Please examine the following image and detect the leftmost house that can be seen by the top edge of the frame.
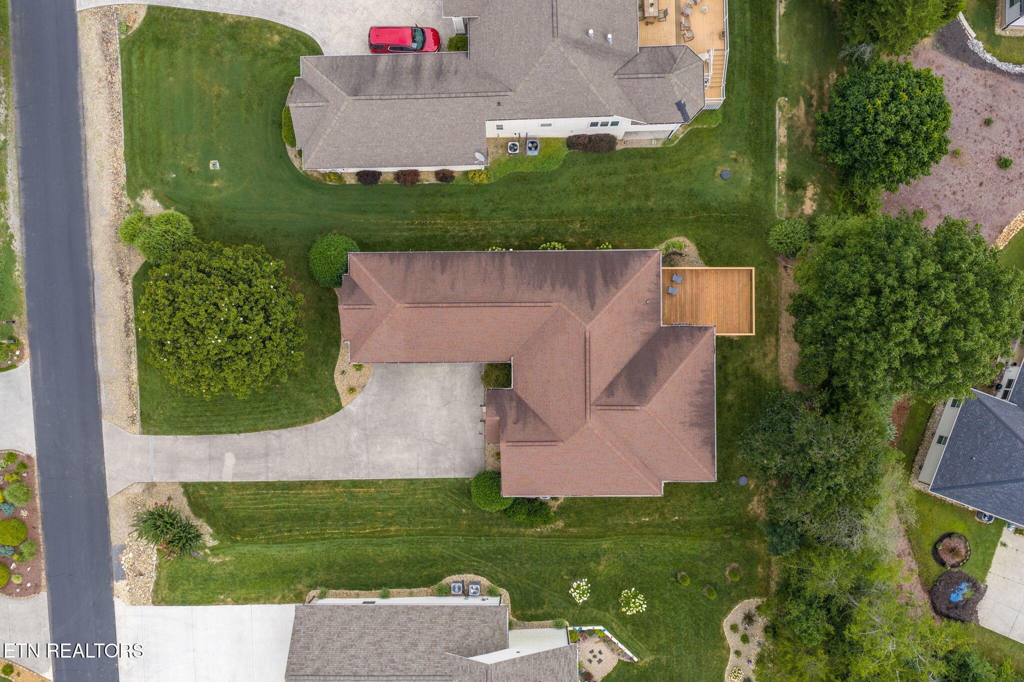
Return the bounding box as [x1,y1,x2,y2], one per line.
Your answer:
[289,0,707,176]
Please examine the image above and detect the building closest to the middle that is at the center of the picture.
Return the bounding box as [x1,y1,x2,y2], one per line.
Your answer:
[338,248,718,499]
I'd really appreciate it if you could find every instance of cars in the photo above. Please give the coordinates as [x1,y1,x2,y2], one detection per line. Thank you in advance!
[370,21,441,55]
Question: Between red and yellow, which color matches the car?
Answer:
red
